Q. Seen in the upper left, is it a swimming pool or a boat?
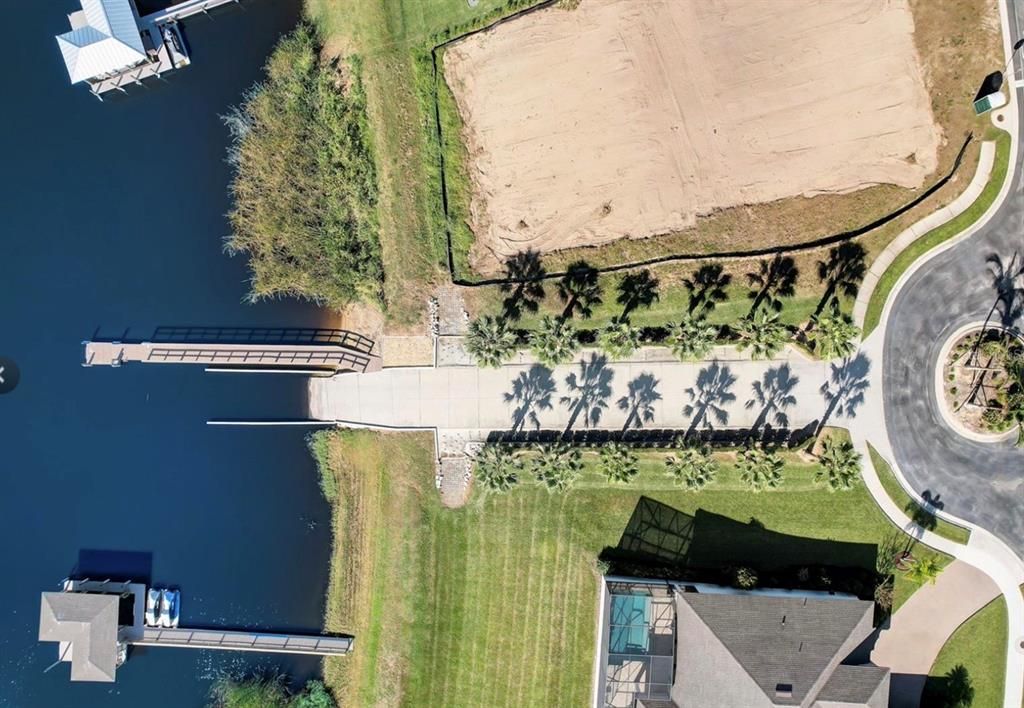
boat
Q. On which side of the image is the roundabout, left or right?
right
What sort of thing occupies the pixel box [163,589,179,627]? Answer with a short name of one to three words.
boat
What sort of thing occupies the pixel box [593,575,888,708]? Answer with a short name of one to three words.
house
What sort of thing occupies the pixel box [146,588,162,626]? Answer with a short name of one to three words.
boat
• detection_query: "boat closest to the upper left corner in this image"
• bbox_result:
[167,26,197,76]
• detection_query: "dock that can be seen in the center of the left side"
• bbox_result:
[86,342,383,372]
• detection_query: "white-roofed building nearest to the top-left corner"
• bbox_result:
[55,0,198,93]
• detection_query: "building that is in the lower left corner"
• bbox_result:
[38,579,147,683]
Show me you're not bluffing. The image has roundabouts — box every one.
[934,322,1024,442]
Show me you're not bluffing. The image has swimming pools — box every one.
[607,594,649,655]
